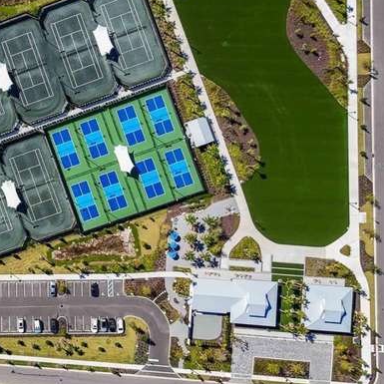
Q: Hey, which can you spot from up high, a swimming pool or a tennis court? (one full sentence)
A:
Visible in the photo is a tennis court.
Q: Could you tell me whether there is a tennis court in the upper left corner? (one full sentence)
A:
Yes, a tennis court is visible in the upper left corner.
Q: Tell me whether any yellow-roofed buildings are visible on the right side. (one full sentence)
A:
No, no yellow-roofed building appears on the right side.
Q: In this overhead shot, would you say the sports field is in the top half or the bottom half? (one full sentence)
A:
It is in the top half that the sports field appears.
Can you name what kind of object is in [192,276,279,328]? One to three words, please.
building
